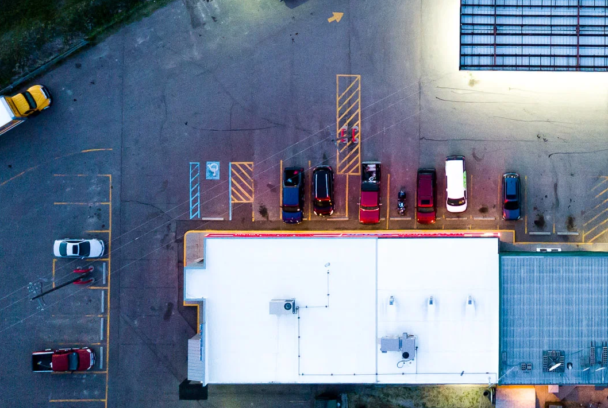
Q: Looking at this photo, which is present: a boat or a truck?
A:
truck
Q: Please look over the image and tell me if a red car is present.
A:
Yes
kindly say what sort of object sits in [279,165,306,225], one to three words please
truck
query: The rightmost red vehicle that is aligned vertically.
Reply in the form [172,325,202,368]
[414,169,439,223]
